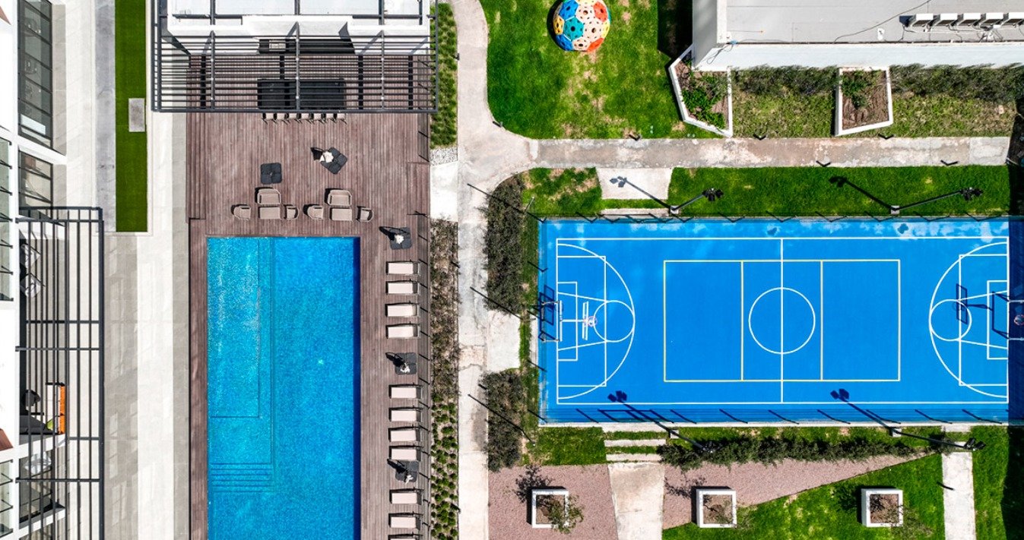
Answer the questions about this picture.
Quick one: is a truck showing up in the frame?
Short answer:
No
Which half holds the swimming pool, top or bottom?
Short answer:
bottom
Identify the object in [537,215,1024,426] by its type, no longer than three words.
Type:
sports court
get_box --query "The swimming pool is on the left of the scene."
[206,235,363,540]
